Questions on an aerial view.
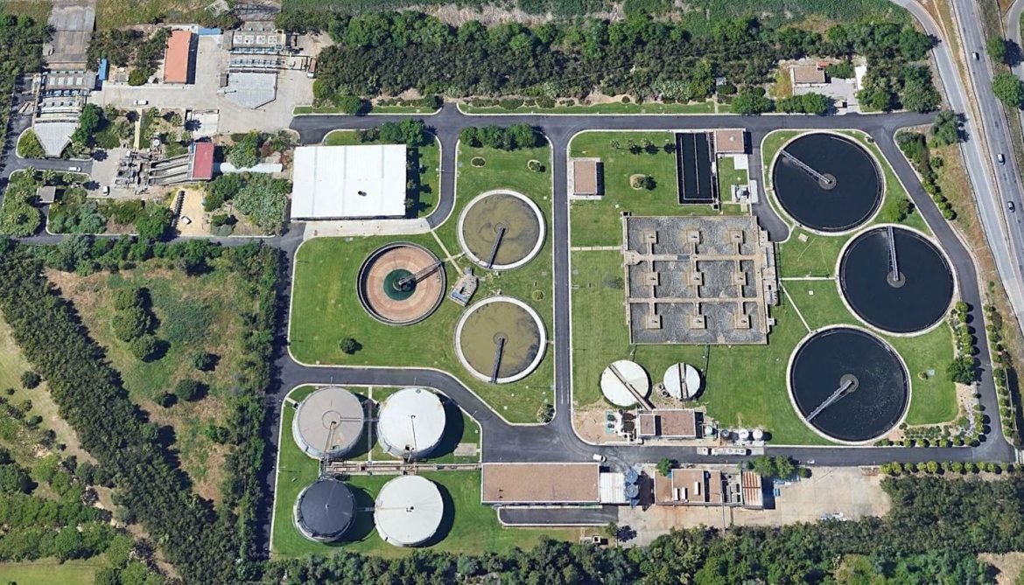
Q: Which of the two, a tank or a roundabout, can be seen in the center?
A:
tank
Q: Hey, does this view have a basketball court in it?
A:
No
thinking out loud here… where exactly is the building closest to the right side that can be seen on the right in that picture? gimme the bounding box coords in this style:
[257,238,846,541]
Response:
[793,62,831,87]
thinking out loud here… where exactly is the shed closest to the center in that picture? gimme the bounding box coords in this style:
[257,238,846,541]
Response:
[574,161,597,198]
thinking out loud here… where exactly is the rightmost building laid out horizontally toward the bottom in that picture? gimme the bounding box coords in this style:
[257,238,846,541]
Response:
[654,470,743,507]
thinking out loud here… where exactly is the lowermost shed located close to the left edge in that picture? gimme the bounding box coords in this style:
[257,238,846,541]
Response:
[37,186,59,206]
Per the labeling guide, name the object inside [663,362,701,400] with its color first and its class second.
white storage tank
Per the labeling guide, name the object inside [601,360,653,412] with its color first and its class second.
white storage tank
